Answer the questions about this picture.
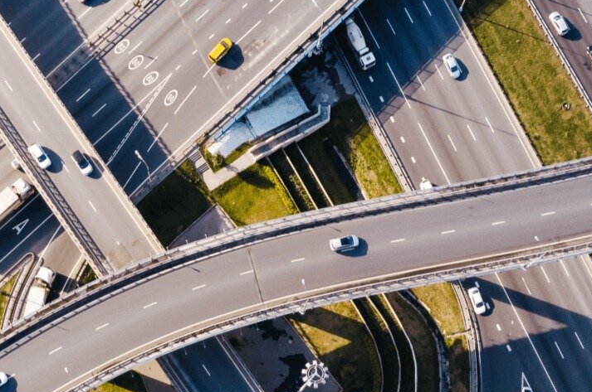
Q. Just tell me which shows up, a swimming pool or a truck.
truck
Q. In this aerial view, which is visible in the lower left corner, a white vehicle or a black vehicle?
white vehicle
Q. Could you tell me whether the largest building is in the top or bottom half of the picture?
top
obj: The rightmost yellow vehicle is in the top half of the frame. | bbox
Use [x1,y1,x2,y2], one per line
[207,35,235,64]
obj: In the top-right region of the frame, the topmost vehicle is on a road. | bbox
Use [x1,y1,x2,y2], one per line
[547,8,570,38]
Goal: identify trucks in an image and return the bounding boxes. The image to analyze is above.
[343,16,379,75]
[0,175,32,219]
[20,260,58,317]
